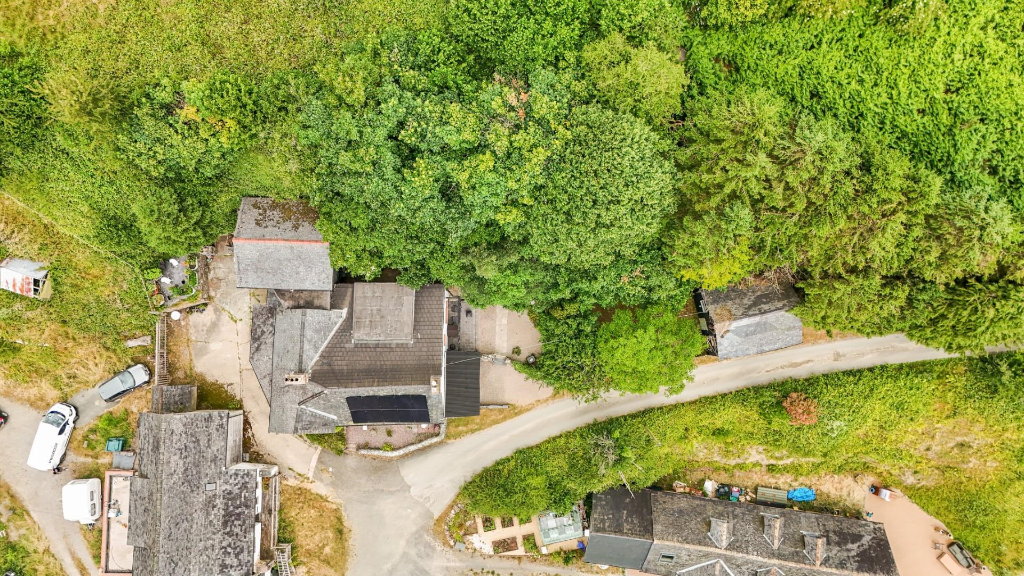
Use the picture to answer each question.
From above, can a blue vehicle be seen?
No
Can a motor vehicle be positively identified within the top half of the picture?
No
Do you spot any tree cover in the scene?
Yes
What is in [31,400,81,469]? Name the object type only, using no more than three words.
van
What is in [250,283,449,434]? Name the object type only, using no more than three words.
house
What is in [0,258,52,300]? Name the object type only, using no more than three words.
shed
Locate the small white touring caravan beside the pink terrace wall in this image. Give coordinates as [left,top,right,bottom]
[62,474,104,531]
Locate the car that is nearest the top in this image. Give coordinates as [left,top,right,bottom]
[95,360,154,406]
